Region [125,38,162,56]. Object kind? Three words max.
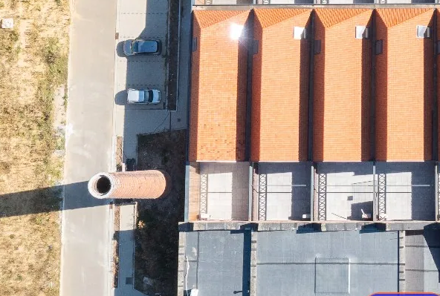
car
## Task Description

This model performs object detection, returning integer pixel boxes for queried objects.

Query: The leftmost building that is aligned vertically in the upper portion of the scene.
[188,8,253,163]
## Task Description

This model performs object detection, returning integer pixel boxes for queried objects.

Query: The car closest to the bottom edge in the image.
[128,87,164,105]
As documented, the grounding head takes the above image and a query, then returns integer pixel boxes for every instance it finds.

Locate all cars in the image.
[128,87,164,105]
[125,38,162,56]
